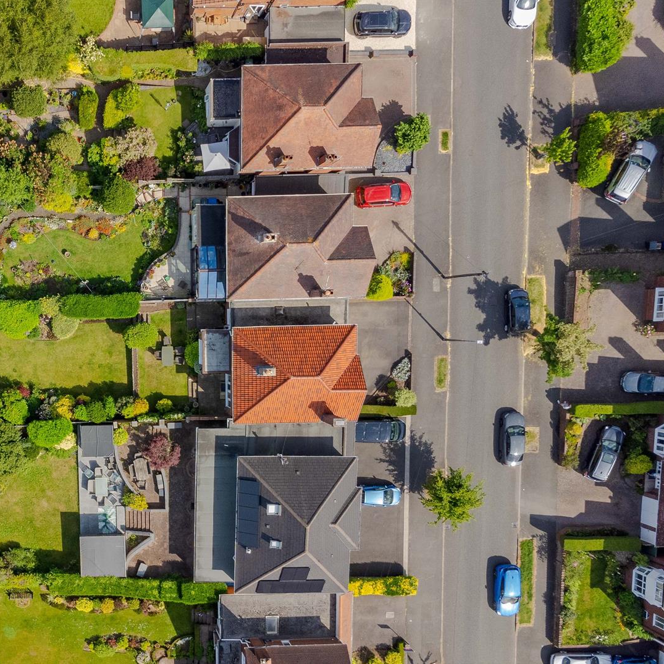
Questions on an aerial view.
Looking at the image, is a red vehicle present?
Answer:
Yes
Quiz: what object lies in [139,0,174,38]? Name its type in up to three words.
gazebo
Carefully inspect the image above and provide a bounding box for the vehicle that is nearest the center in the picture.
[356,417,404,445]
